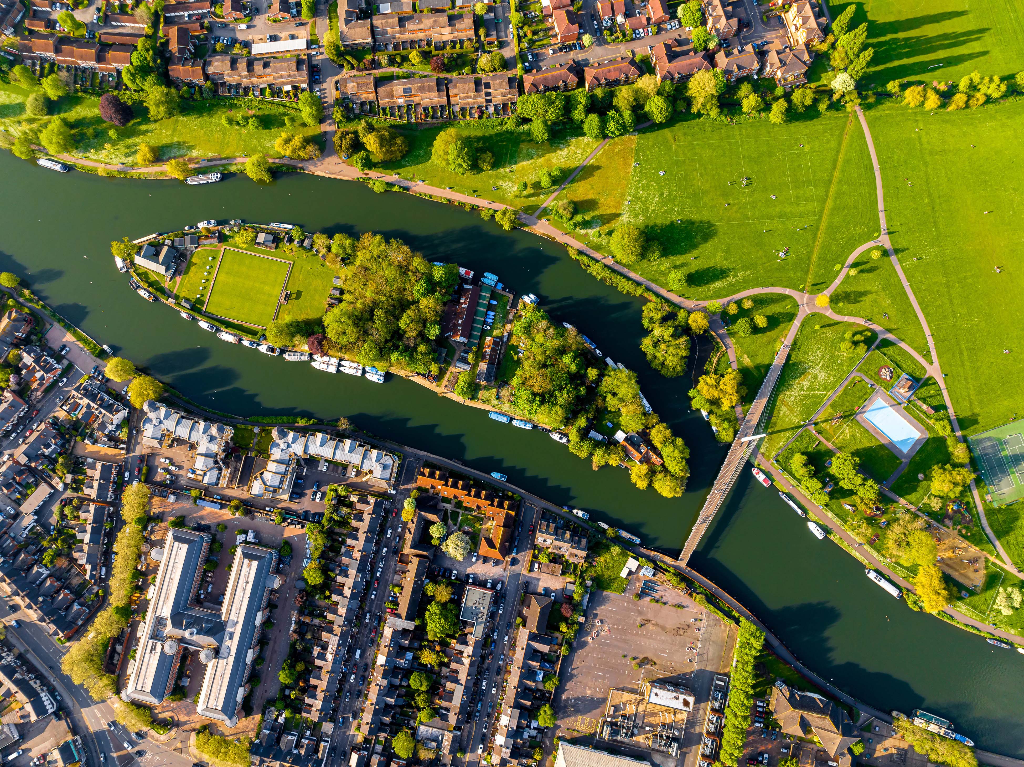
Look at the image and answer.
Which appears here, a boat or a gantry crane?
boat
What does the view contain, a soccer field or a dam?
soccer field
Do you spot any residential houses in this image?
Yes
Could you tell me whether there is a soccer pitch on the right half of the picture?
Yes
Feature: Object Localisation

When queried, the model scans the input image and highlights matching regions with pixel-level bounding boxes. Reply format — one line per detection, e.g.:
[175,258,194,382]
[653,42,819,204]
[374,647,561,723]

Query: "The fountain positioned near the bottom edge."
[889,747,907,766]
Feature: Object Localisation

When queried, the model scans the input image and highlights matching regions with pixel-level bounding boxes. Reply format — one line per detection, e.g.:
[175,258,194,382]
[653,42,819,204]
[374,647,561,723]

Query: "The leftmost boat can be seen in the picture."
[39,159,69,174]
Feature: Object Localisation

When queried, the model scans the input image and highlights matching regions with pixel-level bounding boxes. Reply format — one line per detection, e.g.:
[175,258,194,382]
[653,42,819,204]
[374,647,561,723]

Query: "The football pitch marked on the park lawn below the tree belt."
[673,136,817,225]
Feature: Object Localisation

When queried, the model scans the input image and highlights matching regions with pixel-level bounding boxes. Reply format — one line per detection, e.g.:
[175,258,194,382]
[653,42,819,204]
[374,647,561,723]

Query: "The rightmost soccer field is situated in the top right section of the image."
[866,0,975,64]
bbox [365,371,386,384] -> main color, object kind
white boat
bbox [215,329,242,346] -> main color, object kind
white boat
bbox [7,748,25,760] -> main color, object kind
white vehicle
